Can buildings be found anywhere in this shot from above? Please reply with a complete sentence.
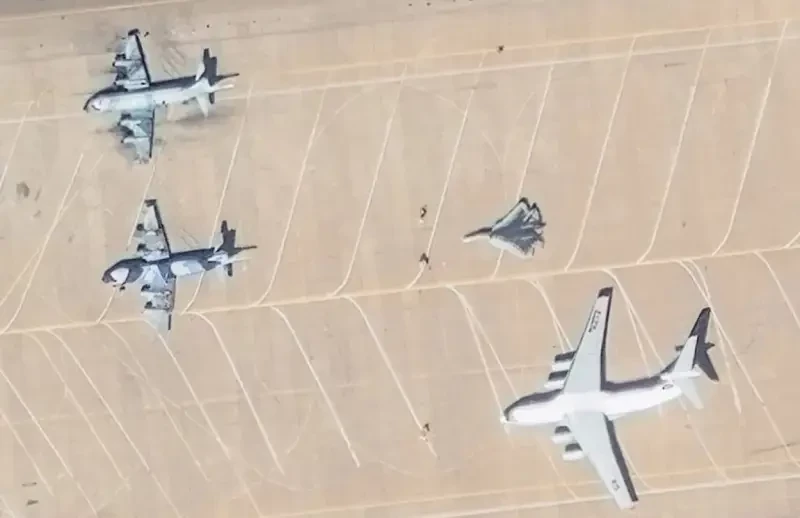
No, there isn't any building down there.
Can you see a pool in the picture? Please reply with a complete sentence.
No, there appears to be no pool in this shot.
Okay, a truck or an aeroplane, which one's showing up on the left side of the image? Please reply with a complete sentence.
You can see an aeroplane on the left side of the image.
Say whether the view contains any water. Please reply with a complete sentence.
No, there's no water in this view.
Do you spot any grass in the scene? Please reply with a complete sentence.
No, the picture contains no grass.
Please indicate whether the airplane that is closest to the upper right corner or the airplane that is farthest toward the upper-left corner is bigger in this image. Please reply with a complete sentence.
Compared with the airplane that is closest to the upper right corner, the airplane that is farthest toward the upper-left corner is the bigger one.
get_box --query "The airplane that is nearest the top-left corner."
[84,35,234,163]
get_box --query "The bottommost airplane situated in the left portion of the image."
[101,206,252,335]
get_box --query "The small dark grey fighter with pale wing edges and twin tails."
[462,205,543,259]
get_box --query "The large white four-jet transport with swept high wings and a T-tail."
[502,295,706,510]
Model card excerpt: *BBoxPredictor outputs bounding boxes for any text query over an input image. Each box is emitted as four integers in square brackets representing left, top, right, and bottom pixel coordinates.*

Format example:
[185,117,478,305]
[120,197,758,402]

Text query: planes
[84,35,234,163]
[101,206,252,335]
[462,205,543,259]
[502,295,706,510]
